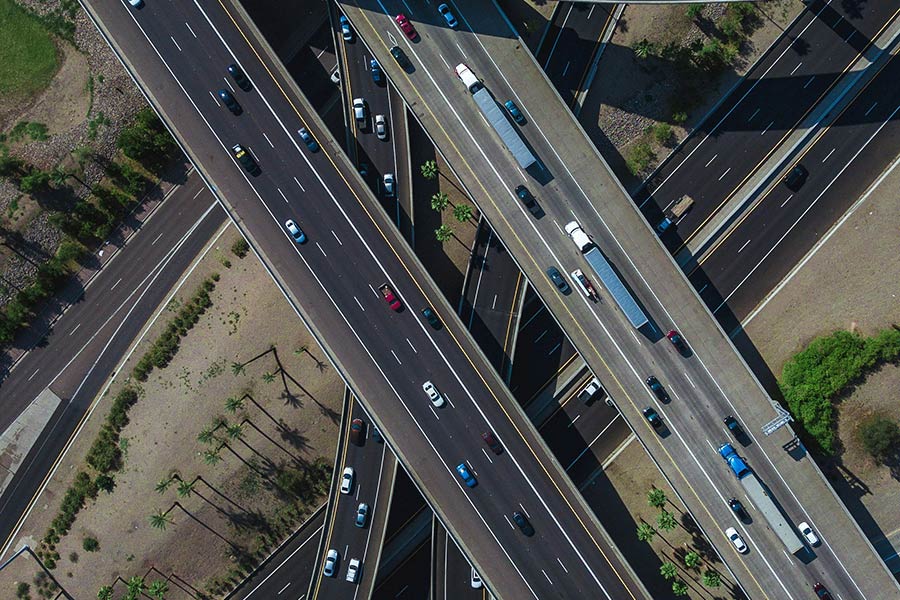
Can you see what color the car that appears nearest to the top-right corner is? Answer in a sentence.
The car that appears nearest to the top-right corner is black.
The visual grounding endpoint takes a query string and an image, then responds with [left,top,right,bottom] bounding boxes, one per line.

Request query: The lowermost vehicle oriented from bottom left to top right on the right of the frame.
[577,379,601,404]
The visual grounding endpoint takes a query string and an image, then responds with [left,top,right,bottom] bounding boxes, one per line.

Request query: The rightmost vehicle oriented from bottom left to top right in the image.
[781,164,808,191]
